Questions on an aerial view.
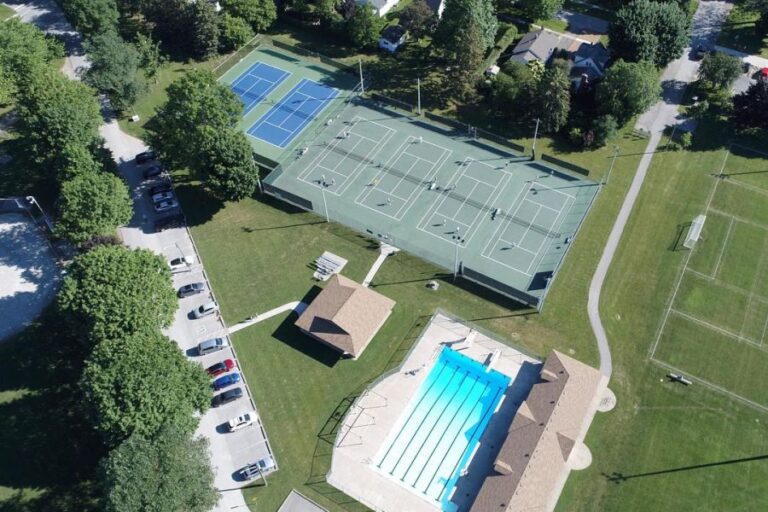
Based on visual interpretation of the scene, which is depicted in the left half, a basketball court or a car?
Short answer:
car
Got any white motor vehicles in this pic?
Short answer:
Yes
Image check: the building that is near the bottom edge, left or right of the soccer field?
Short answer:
to the left of it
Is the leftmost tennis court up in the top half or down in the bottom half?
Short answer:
top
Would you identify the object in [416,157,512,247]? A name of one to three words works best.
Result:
tennis court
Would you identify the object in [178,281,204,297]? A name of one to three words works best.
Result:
car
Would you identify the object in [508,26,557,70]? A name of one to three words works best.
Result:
house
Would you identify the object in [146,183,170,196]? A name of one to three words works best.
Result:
vehicle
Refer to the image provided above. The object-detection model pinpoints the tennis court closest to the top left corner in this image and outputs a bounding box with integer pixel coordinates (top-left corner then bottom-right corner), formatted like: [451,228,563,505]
[213,61,292,126]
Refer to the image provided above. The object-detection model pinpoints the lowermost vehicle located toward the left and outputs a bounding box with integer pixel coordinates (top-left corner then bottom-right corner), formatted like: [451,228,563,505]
[238,456,276,481]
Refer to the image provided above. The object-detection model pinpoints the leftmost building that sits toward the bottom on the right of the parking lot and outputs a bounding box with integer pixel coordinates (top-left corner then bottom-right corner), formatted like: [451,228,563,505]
[293,274,397,364]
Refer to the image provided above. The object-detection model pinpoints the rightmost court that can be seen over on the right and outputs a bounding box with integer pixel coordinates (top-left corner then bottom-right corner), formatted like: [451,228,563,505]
[480,180,577,277]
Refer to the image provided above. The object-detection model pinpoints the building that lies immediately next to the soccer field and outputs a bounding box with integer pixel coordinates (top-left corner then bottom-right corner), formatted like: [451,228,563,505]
[472,349,602,512]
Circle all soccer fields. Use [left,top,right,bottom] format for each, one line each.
[651,150,768,415]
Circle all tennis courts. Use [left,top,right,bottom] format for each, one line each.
[355,136,452,220]
[416,157,512,247]
[247,78,340,148]
[480,180,577,277]
[213,61,292,126]
[298,116,395,196]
